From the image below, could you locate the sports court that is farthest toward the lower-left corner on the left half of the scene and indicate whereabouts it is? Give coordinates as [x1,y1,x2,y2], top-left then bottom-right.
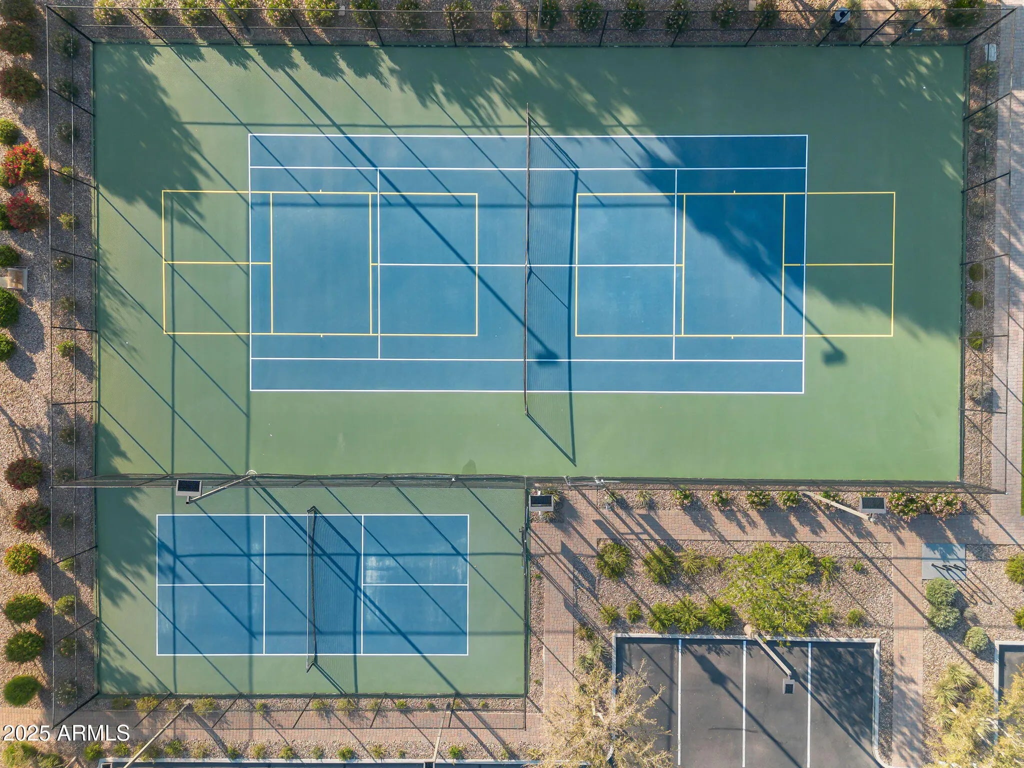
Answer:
[93,481,531,700]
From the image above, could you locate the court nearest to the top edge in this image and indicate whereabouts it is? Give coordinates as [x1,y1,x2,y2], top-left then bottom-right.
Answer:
[90,37,971,483]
